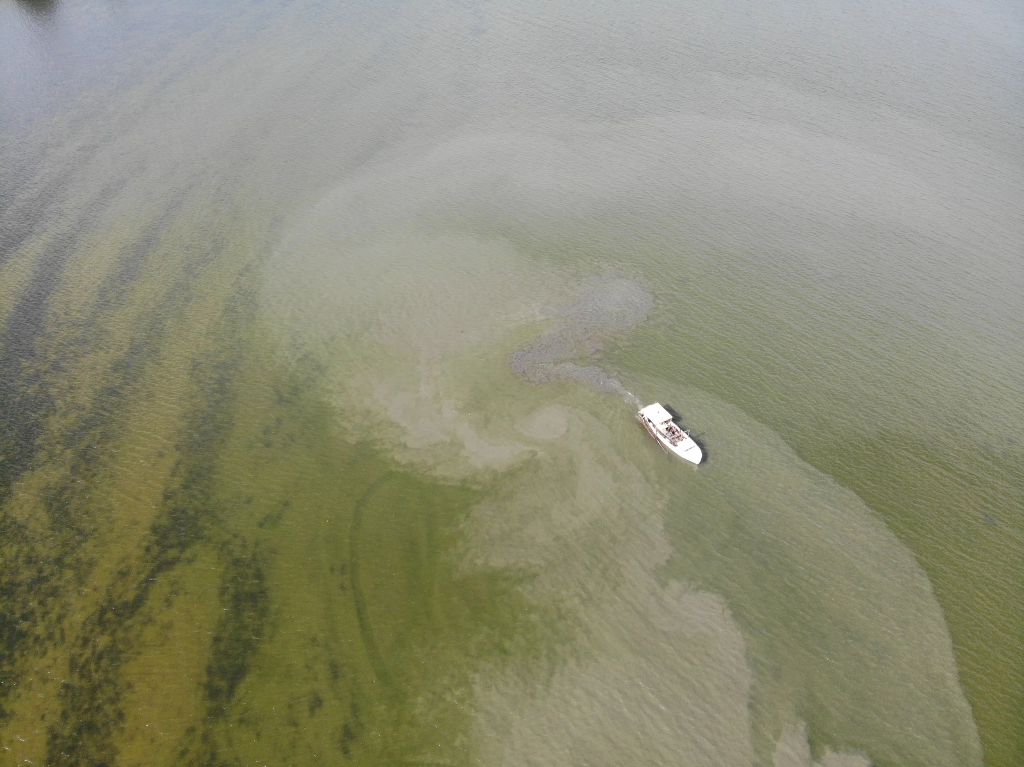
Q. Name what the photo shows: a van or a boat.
boat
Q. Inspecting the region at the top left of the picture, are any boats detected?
No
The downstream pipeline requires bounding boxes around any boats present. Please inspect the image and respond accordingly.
[638,403,700,466]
